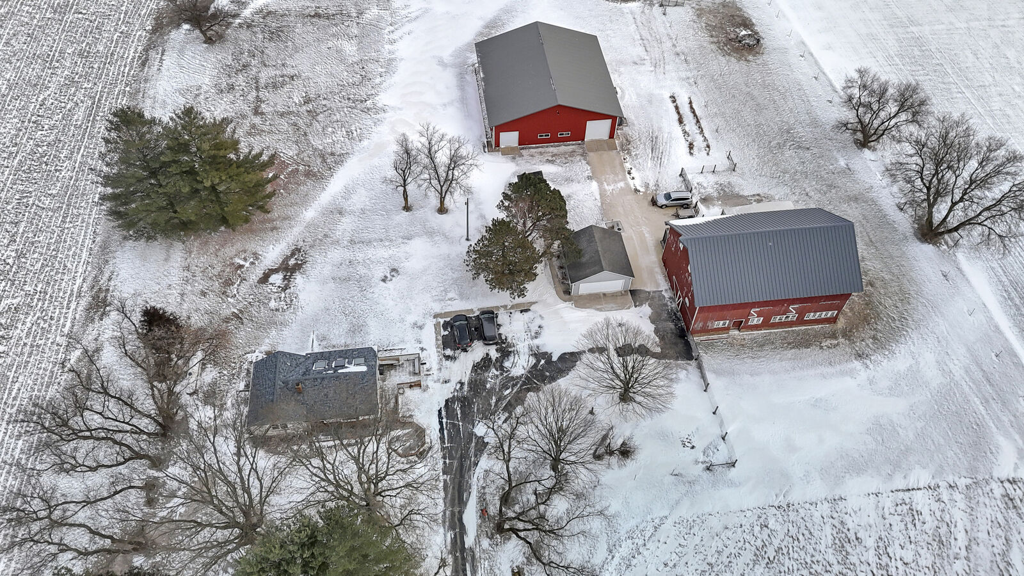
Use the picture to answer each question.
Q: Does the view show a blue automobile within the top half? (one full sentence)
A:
No, the scene shows no blue automobile within the top half.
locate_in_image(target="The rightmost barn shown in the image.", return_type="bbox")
[663,207,864,340]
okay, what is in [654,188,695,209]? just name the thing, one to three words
car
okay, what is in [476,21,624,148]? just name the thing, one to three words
shed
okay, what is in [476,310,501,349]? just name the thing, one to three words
car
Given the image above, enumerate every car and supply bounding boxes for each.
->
[654,188,695,209]
[450,315,473,353]
[476,310,501,349]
